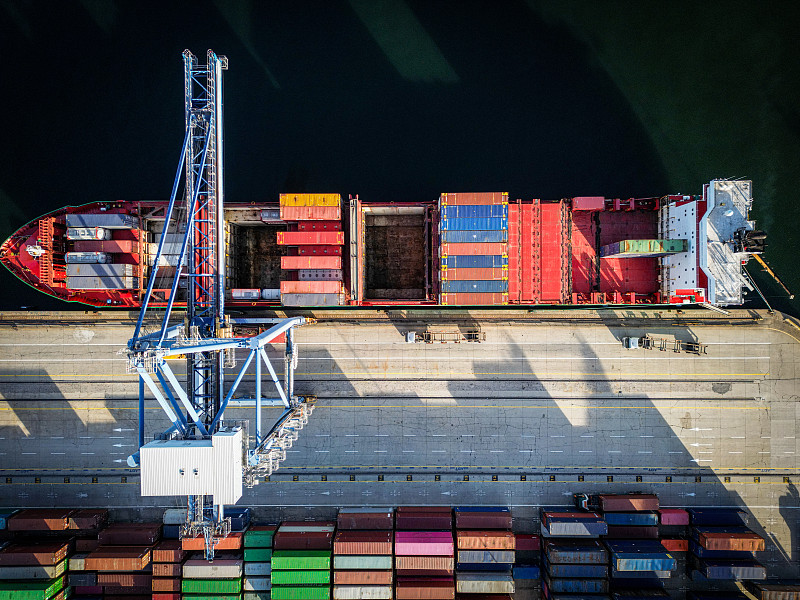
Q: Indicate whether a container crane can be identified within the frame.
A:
Yes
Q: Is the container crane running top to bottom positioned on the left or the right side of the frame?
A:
left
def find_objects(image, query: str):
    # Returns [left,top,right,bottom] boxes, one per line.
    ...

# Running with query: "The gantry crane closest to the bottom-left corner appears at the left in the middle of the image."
[107,46,326,560]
